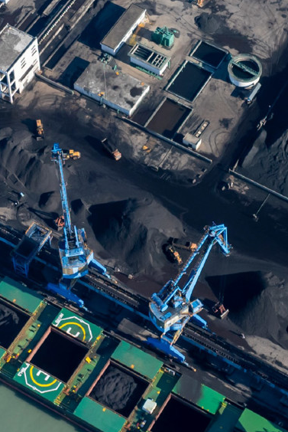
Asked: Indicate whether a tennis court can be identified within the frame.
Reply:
No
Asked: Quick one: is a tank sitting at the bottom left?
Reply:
No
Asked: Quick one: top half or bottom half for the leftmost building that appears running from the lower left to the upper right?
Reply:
top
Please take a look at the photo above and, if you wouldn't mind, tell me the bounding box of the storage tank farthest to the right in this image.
[231,59,261,101]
